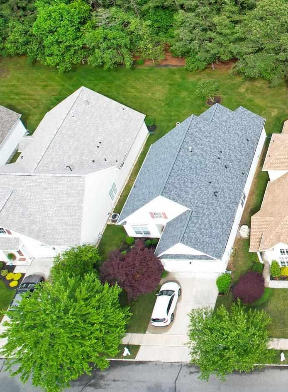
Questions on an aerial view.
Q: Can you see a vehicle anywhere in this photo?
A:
Yes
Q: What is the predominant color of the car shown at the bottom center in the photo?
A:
white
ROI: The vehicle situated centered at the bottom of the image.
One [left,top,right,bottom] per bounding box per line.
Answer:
[150,283,182,327]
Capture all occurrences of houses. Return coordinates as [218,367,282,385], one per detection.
[246,120,288,271]
[114,102,270,274]
[0,85,153,267]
